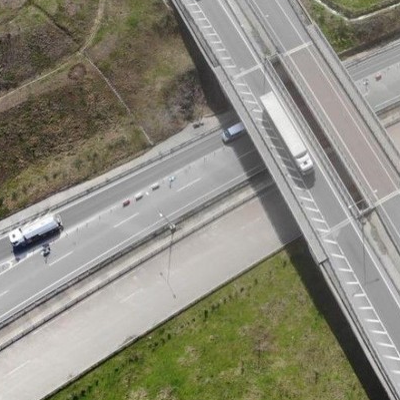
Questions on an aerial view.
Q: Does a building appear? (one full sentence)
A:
No, I can see no building in this picture.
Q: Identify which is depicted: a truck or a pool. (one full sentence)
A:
Of the two, only a truck appears.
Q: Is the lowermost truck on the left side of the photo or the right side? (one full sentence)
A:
You can find the lowermost truck on the left side of the picture.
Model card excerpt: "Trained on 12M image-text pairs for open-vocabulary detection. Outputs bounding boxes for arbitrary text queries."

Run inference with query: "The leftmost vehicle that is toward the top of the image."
[221,123,248,144]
